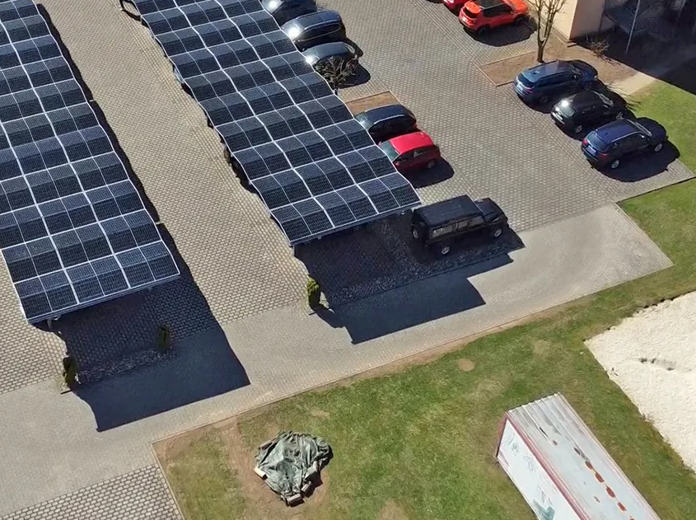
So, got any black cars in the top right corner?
Yes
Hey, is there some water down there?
No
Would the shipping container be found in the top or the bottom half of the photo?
bottom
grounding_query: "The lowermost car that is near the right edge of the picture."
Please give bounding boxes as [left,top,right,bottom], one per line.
[584,111,677,167]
